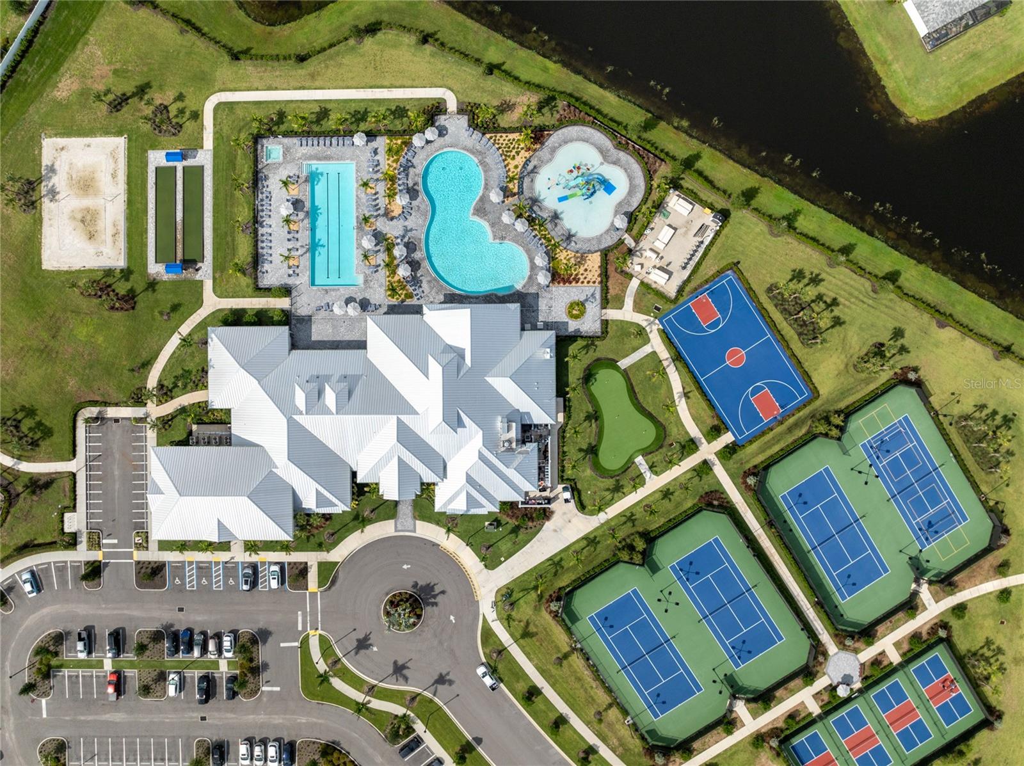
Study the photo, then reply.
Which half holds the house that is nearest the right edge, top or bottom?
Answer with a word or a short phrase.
top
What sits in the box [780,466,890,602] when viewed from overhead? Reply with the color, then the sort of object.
blue tennis court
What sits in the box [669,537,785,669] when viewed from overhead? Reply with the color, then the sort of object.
blue tennis court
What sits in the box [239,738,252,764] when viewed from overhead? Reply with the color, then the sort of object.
white vehicle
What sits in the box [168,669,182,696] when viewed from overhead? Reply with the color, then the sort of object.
white car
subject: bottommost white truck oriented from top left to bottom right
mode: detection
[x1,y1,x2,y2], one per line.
[476,661,499,691]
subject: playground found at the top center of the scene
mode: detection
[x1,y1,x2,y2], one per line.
[558,172,617,204]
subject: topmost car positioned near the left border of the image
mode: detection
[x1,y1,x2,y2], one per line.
[23,568,40,595]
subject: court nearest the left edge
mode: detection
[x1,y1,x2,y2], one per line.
[42,137,125,269]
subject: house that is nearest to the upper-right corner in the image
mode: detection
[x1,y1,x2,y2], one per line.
[901,0,1014,52]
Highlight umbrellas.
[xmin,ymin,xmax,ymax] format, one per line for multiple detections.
[413,133,426,147]
[535,253,548,266]
[396,192,409,205]
[515,218,528,232]
[353,133,367,146]
[425,127,438,141]
[393,246,407,259]
[490,189,503,202]
[398,264,411,277]
[835,683,849,697]
[538,272,550,284]
[362,235,376,249]
[348,303,361,316]
[281,203,294,215]
[501,211,515,224]
[613,214,627,228]
[334,302,347,315]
